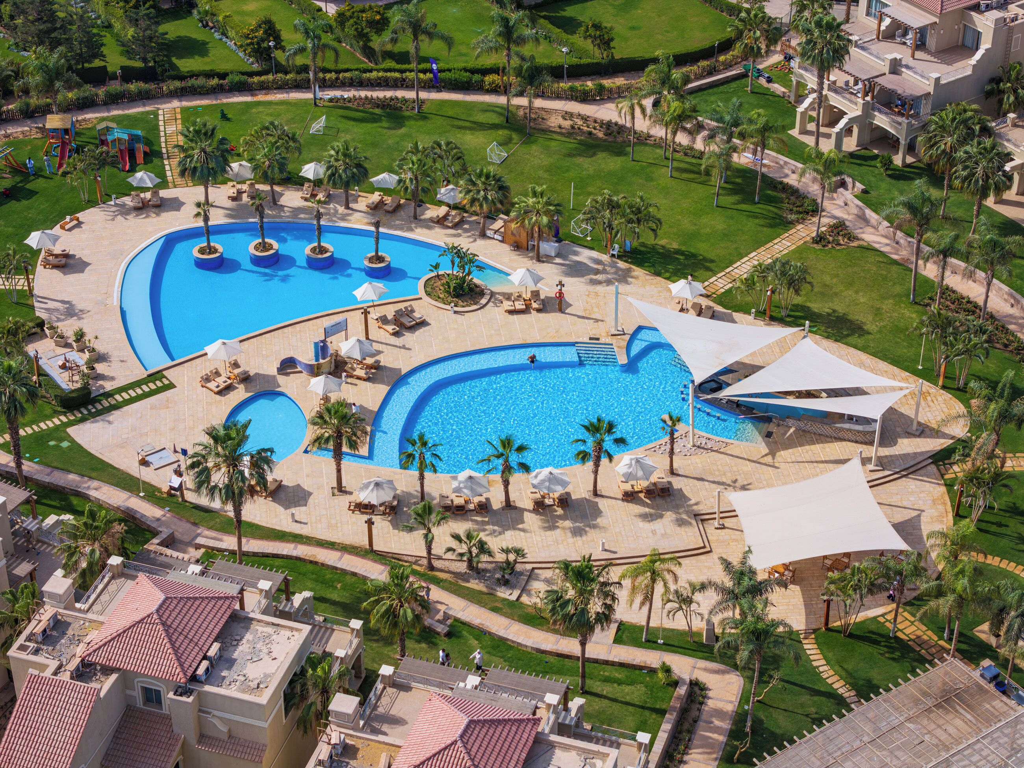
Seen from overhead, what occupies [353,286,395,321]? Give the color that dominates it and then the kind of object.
white umbrella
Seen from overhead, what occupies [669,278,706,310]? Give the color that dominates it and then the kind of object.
white umbrella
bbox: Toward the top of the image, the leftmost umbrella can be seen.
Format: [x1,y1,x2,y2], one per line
[22,225,63,259]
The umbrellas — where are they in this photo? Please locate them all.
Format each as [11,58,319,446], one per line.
[615,453,664,494]
[227,160,251,182]
[506,267,547,300]
[669,278,706,310]
[297,164,328,184]
[203,341,245,378]
[335,335,376,358]
[353,286,395,321]
[124,168,162,199]
[444,469,492,511]
[368,170,399,204]
[303,374,348,400]
[22,225,63,259]
[526,465,575,506]
[352,475,403,516]
[434,187,465,220]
